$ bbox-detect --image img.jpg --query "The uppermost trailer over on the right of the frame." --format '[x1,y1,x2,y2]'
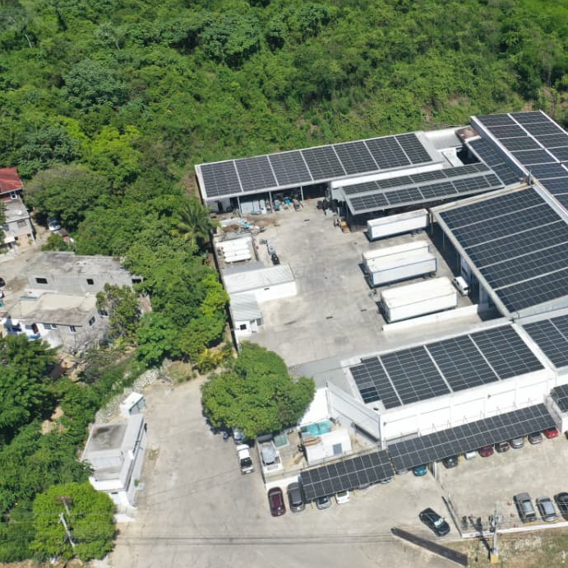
[367,209,430,243]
